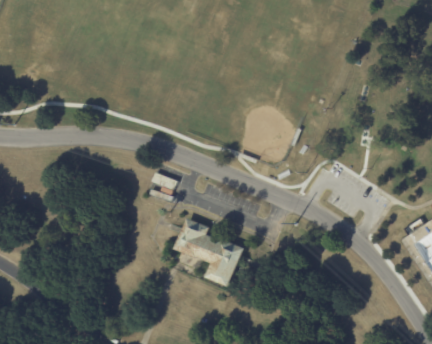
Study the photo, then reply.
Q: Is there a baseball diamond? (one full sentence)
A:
Yes, the picture does show a baseball diamond.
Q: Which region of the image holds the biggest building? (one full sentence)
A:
The biggest building is located in the bottom region of the scene.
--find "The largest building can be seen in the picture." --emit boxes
[173,218,244,286]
